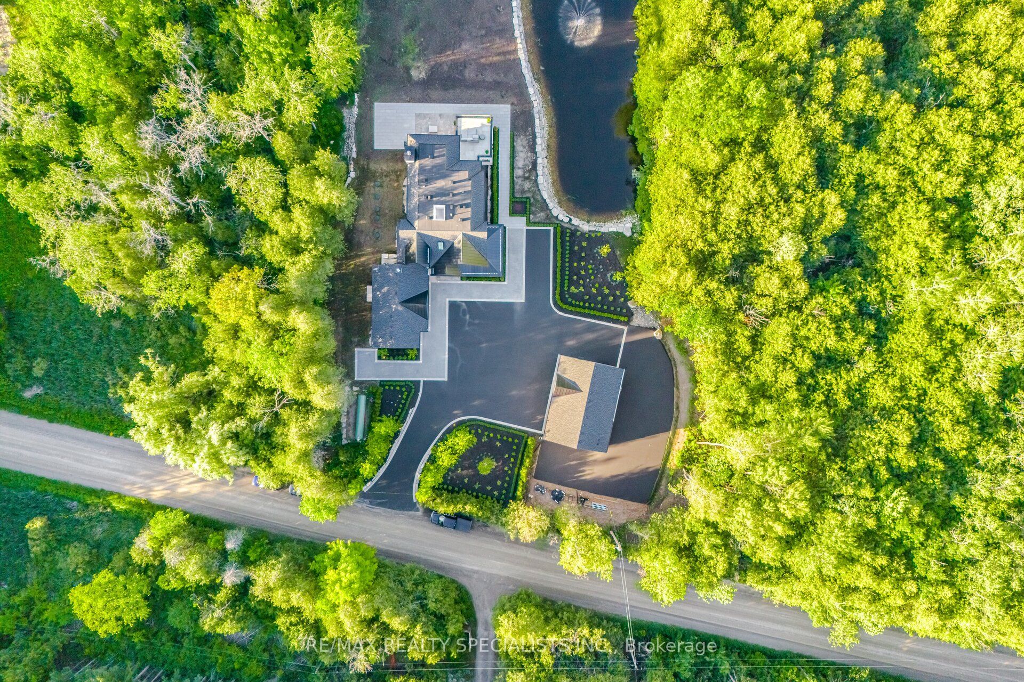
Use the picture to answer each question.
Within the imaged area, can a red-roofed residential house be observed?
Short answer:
No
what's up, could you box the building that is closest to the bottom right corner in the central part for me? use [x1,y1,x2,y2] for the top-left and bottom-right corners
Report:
[543,355,625,453]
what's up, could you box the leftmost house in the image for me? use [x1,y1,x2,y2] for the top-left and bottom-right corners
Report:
[371,115,504,348]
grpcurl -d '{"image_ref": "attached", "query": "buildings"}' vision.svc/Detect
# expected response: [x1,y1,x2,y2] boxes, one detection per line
[543,355,625,453]
[371,115,504,348]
